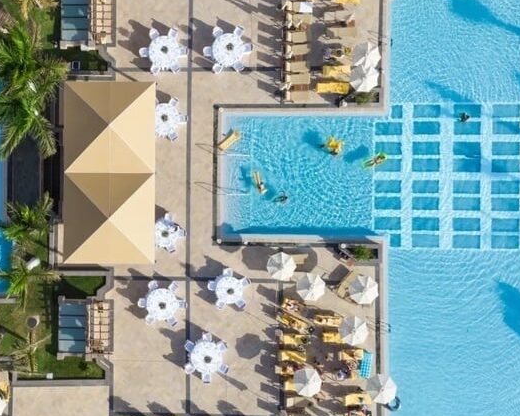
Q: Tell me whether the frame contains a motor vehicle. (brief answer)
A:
No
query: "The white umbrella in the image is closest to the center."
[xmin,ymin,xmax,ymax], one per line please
[266,247,297,278]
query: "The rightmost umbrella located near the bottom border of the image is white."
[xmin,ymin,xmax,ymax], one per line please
[363,372,395,403]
